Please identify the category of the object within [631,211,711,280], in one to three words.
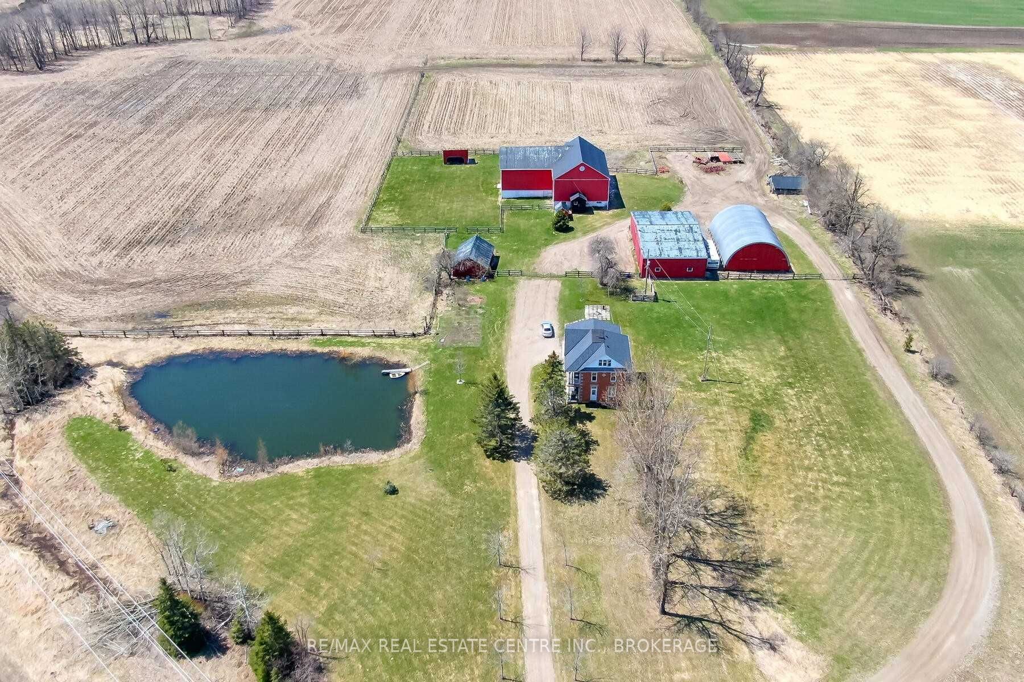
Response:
shed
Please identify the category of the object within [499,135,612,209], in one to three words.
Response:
barn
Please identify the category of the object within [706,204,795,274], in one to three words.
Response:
shed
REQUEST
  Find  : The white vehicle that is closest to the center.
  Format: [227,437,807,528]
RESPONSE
[542,322,554,336]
